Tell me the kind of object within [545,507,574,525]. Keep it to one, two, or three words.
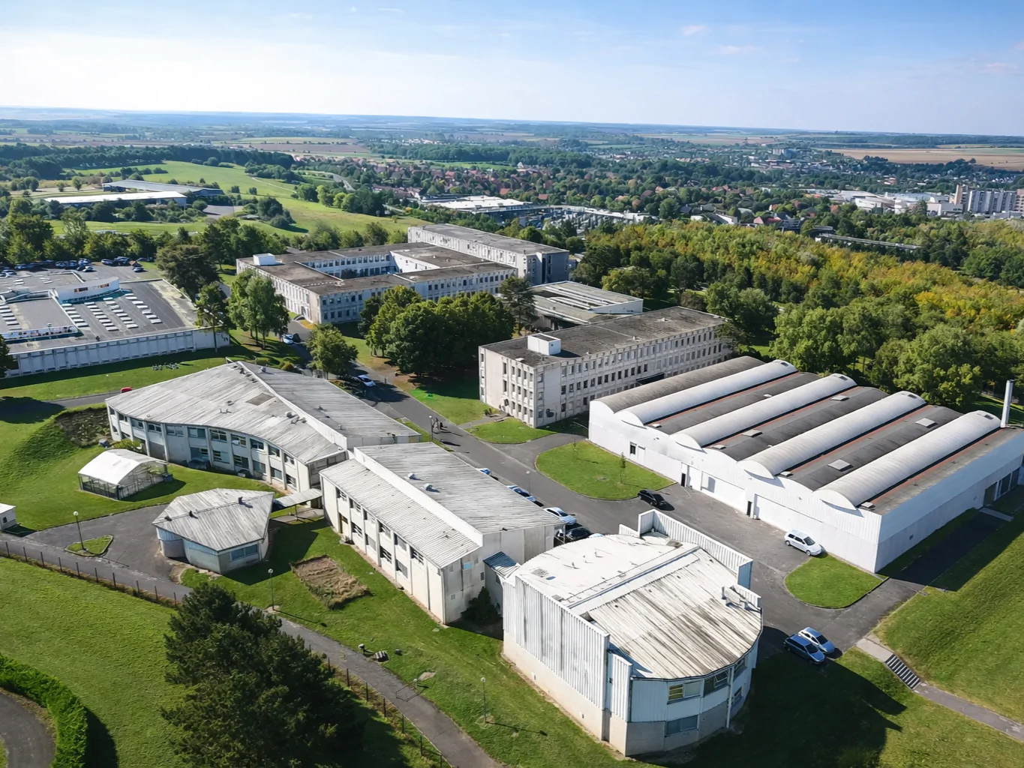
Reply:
car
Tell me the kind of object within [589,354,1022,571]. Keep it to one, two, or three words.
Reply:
building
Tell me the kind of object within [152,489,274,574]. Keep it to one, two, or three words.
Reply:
building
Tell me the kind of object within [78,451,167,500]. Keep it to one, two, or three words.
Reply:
greenhouse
